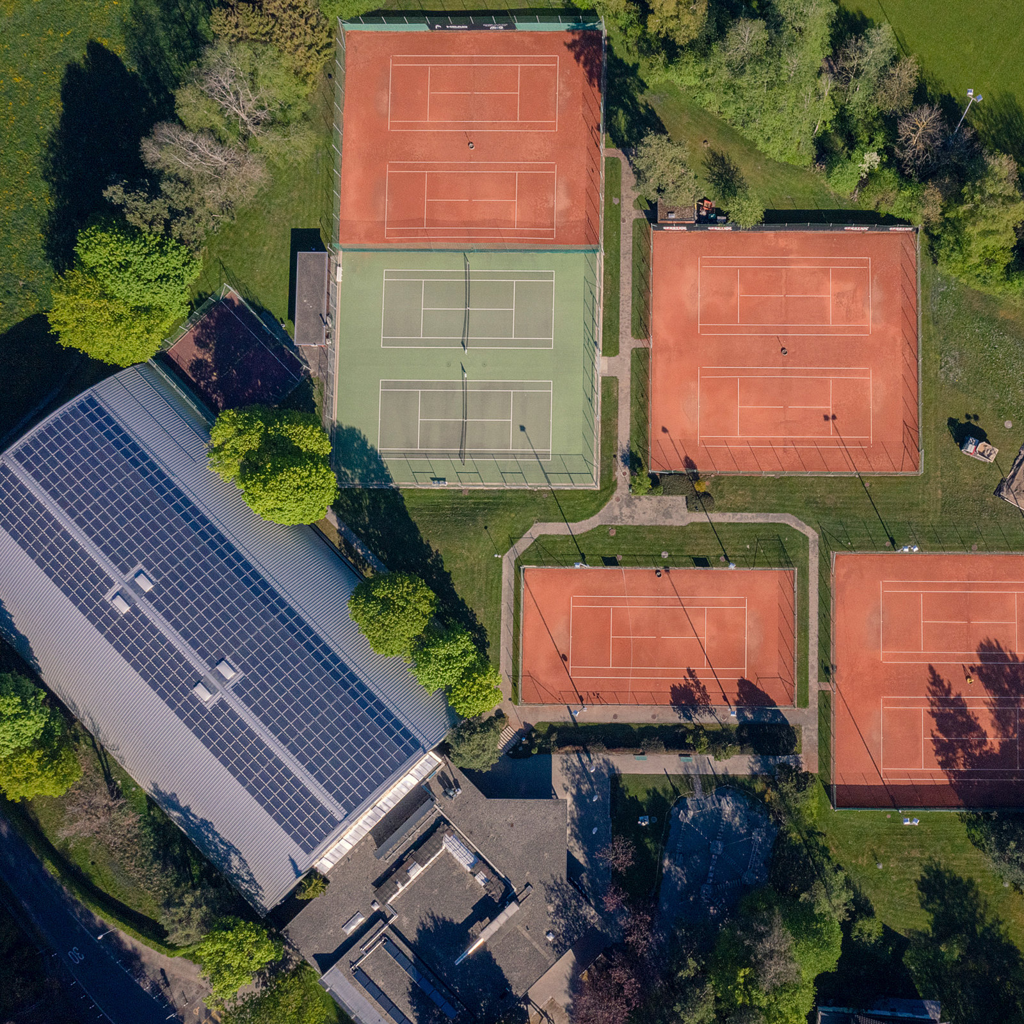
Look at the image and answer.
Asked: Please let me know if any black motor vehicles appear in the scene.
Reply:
No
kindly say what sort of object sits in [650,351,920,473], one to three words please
tennis court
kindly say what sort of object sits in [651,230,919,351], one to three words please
tennis court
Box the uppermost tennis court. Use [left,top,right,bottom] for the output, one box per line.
[342,30,603,147]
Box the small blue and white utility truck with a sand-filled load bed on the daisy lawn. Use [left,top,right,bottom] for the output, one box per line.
[961,435,999,461]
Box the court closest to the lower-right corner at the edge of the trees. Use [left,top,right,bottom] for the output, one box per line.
[833,680,1024,810]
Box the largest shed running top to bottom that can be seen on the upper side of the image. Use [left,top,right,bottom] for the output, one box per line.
[294,251,333,347]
